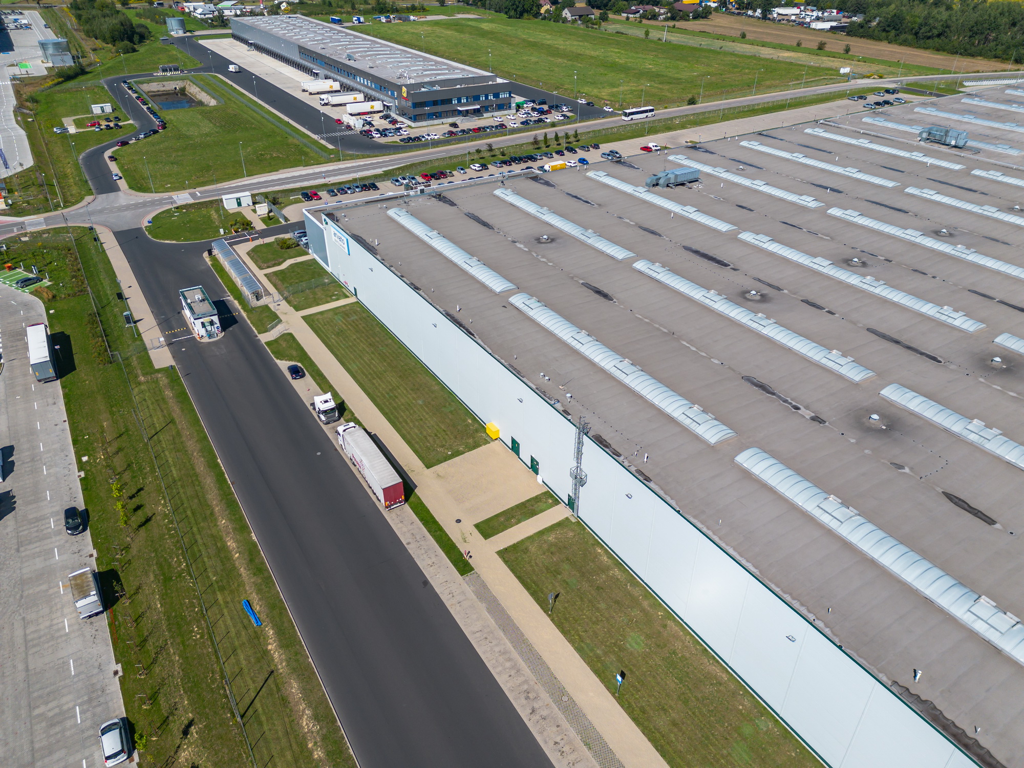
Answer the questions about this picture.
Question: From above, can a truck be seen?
Yes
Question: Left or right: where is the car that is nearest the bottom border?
left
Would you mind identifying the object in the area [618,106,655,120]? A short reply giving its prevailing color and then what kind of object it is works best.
white vehicle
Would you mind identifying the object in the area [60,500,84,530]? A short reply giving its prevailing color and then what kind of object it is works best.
black car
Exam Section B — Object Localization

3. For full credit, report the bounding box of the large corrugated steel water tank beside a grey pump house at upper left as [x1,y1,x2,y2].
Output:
[39,41,75,64]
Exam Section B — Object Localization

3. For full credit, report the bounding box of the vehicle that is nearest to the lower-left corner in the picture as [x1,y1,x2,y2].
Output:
[93,714,127,764]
